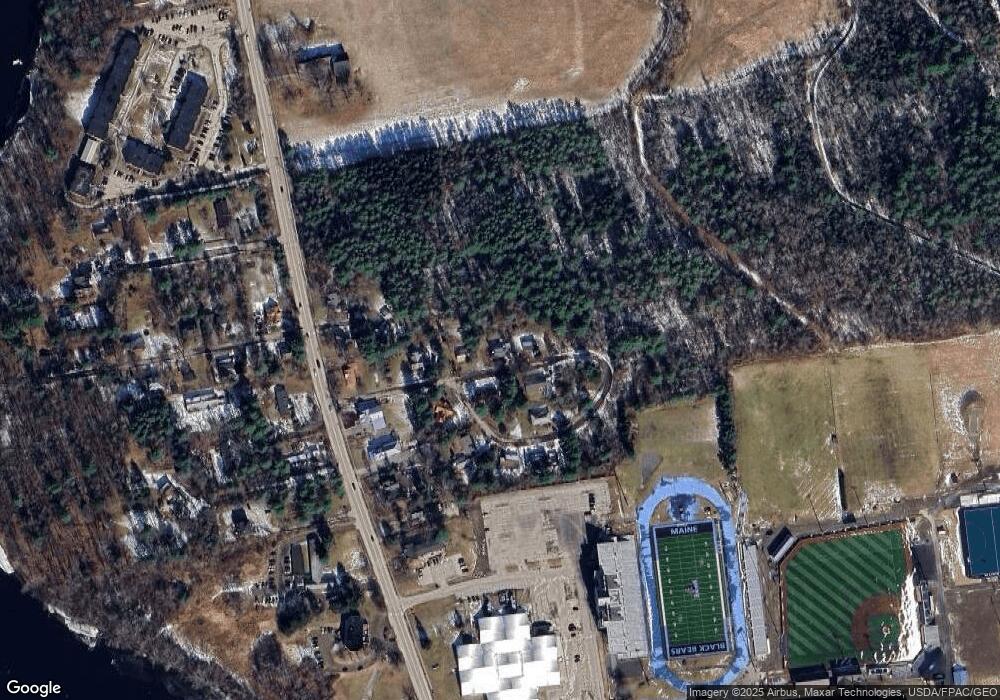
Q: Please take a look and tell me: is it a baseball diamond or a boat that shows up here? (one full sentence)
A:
This aerial view contains a baseball diamond.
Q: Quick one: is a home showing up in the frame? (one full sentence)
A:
Yes, the image includes a home.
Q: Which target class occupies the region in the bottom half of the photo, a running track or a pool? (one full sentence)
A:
Visible in the bottom half of the photo is a running track.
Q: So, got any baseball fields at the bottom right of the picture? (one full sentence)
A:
Yes, there is a baseball field at the bottom right of the picture.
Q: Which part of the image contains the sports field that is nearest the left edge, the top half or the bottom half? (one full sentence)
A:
The sports field that is nearest the left edge sits in the bottom half of the picture.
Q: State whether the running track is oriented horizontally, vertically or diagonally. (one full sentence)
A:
From this overhead view, the running track appears to run vertically.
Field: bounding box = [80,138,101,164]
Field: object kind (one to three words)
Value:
building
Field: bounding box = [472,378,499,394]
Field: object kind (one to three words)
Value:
house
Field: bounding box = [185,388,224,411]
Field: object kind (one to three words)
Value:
house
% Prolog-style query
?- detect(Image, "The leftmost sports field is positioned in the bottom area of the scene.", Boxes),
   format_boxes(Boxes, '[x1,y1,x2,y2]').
[649,519,733,660]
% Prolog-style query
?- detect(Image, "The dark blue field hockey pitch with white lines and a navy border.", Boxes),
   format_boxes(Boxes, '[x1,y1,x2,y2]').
[960,505,1000,578]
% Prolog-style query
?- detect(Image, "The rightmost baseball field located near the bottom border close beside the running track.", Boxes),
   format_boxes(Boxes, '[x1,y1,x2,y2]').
[783,525,923,672]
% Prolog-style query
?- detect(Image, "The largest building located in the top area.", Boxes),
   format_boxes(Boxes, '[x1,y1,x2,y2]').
[87,32,141,138]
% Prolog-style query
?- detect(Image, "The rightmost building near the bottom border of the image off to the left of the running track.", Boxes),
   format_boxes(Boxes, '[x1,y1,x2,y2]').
[458,604,562,700]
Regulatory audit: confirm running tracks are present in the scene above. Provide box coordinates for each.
[639,476,749,699]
